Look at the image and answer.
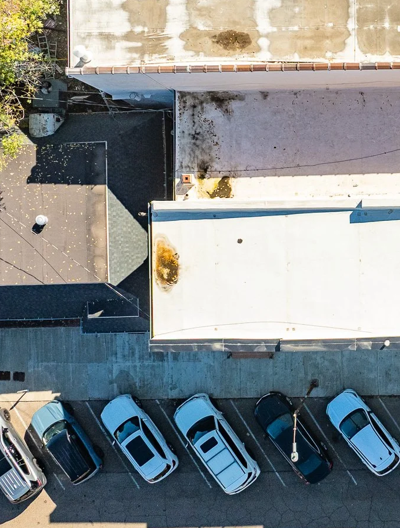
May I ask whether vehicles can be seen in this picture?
Yes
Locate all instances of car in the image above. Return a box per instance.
[0,405,49,504]
[102,394,181,487]
[28,395,107,490]
[174,392,262,499]
[326,385,400,480]
[253,387,336,489]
